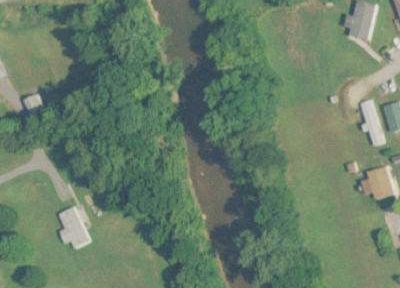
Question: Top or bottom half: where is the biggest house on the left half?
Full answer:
Seen from above, the biggest house on the left half lies in the bottom half of the view.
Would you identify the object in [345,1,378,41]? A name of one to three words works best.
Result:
house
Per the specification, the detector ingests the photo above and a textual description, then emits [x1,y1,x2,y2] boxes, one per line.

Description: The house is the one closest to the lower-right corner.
[362,166,400,200]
